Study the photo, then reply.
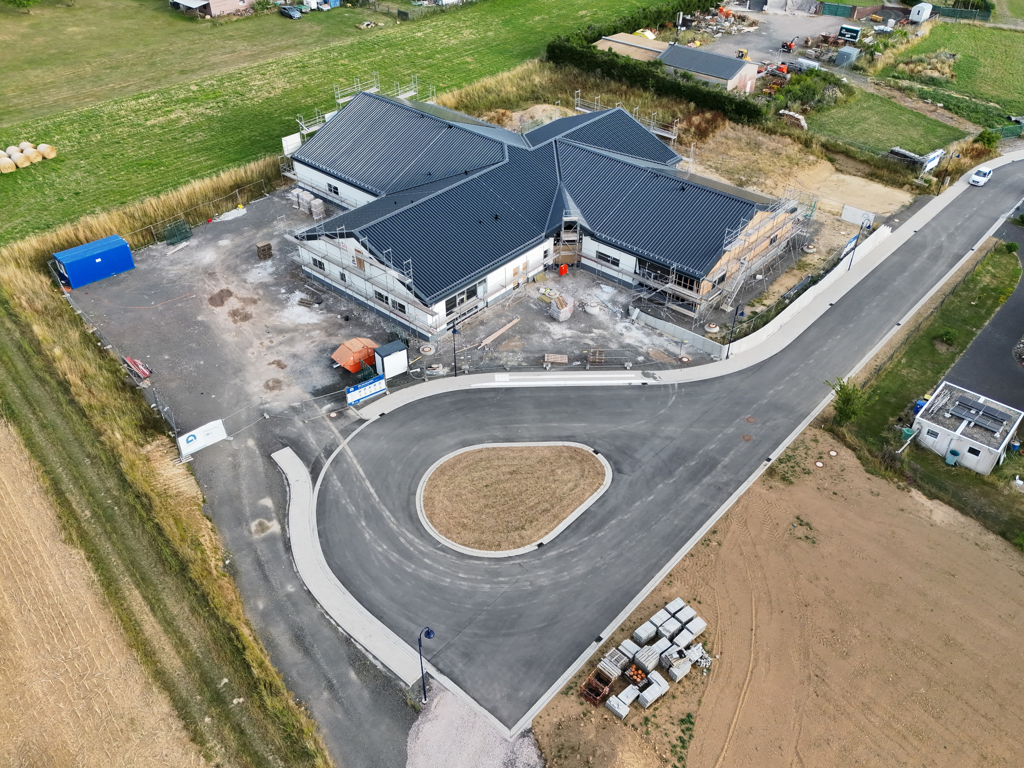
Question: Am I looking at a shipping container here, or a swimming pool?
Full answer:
Of the two, only a shipping container appears.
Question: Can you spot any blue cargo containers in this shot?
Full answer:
Yes, a blue cargo container is visible in the scene.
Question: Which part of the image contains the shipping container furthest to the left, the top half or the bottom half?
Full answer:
The shipping container furthest to the left sits in the top half of the picture.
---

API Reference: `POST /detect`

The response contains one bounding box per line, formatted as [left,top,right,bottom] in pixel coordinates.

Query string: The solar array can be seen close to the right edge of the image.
[936,397,1008,440]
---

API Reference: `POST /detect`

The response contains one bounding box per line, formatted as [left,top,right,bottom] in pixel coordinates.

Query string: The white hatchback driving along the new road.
[970,167,997,184]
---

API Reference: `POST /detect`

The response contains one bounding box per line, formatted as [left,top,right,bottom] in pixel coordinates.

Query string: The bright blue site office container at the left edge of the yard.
[53,236,134,289]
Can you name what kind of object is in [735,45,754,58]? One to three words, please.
vehicle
